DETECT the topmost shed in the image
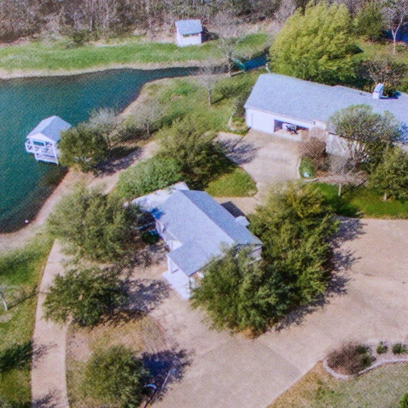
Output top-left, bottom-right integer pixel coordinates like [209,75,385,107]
[176,23,205,47]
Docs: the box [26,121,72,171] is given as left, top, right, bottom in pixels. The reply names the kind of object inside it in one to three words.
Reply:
building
